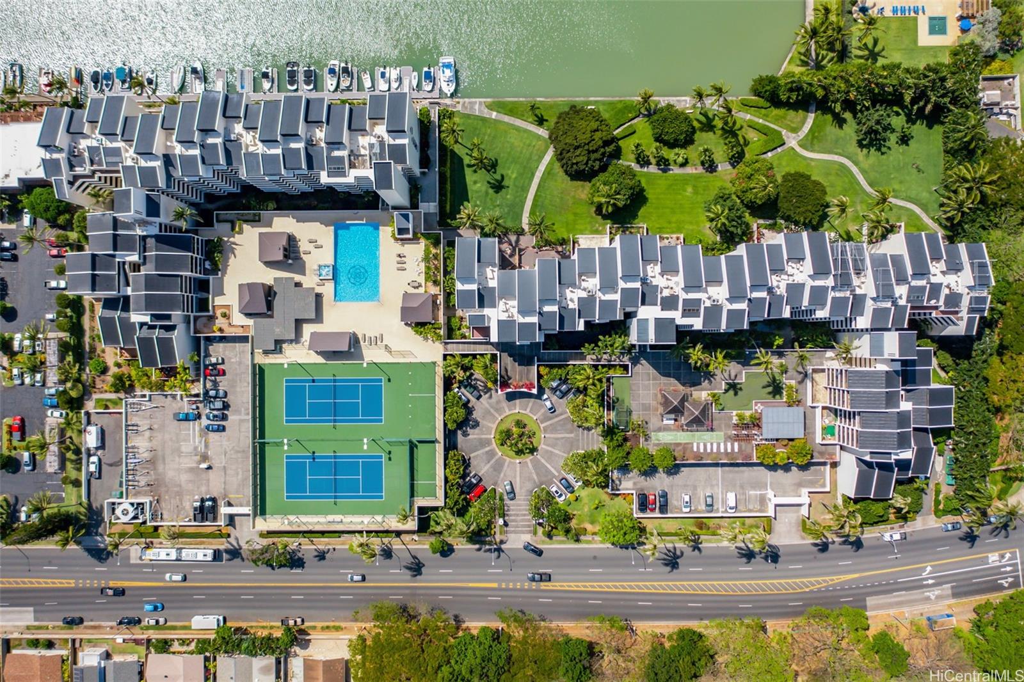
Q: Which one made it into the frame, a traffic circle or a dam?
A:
traffic circle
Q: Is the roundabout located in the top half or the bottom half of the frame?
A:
bottom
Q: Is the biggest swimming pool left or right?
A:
left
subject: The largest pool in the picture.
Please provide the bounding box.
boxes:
[334,221,381,305]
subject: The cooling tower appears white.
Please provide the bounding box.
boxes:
[105,497,159,523]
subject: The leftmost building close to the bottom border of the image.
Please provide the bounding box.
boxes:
[4,649,70,682]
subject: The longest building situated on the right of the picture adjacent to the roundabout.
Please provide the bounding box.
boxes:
[455,231,995,358]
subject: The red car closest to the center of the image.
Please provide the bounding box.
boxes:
[471,484,486,500]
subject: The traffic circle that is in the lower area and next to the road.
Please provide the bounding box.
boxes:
[449,377,599,536]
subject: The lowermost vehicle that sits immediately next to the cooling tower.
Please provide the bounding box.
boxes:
[137,548,219,563]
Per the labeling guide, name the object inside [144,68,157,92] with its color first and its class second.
white boat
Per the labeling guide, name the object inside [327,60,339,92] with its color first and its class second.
white boat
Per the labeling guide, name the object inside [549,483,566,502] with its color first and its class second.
white car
